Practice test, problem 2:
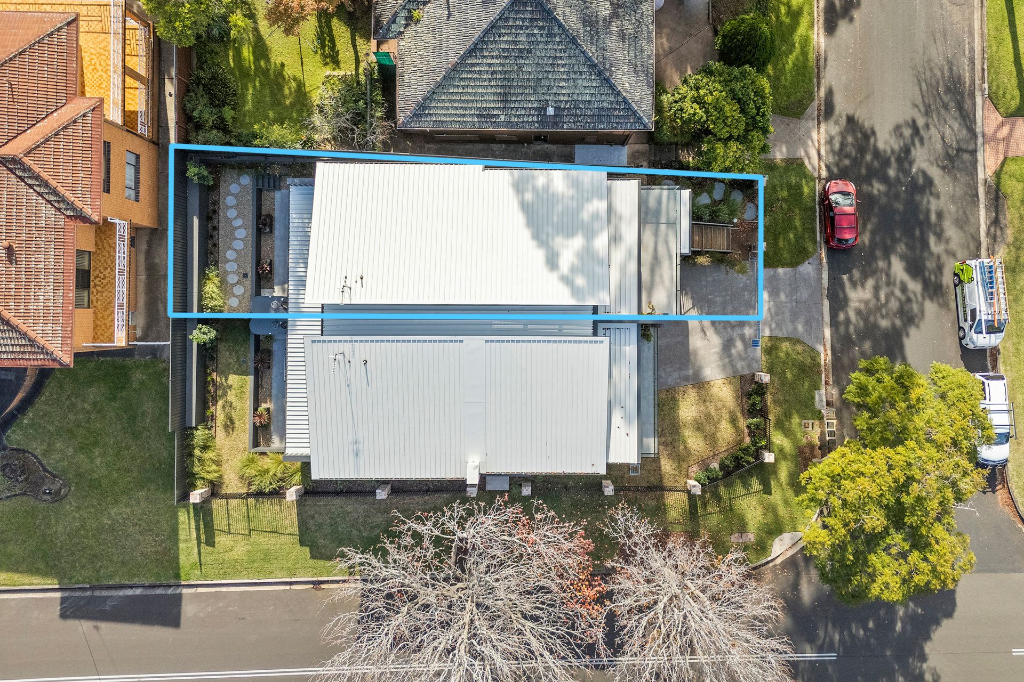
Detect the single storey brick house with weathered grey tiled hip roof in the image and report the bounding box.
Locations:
[371,0,657,141]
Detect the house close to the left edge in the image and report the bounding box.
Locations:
[0,0,161,369]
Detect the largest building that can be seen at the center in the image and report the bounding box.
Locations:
[283,160,664,485]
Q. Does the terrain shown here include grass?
Yes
